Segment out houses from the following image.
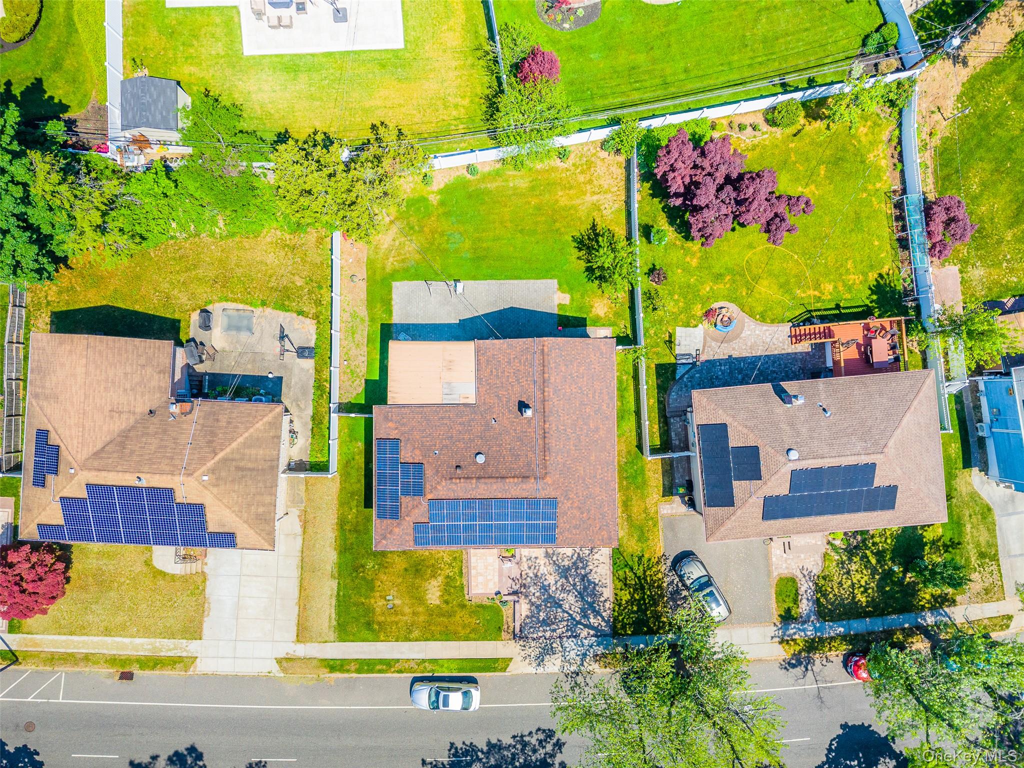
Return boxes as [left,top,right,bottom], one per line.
[17,333,296,552]
[687,368,949,543]
[978,366,1024,484]
[371,337,620,553]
